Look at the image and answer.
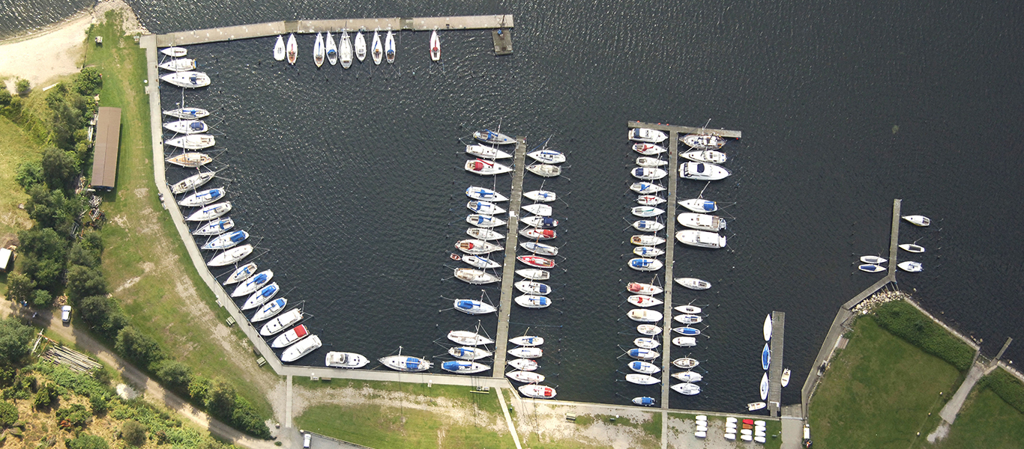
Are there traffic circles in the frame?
No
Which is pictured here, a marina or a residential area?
marina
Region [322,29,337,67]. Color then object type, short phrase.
white boat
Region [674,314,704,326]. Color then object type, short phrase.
white boat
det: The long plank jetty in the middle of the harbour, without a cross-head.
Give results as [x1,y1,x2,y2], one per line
[493,136,526,377]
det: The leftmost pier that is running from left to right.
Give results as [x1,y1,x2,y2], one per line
[175,20,285,46]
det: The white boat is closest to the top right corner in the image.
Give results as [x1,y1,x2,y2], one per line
[900,213,939,229]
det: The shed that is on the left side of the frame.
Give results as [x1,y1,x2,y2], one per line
[91,107,122,189]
